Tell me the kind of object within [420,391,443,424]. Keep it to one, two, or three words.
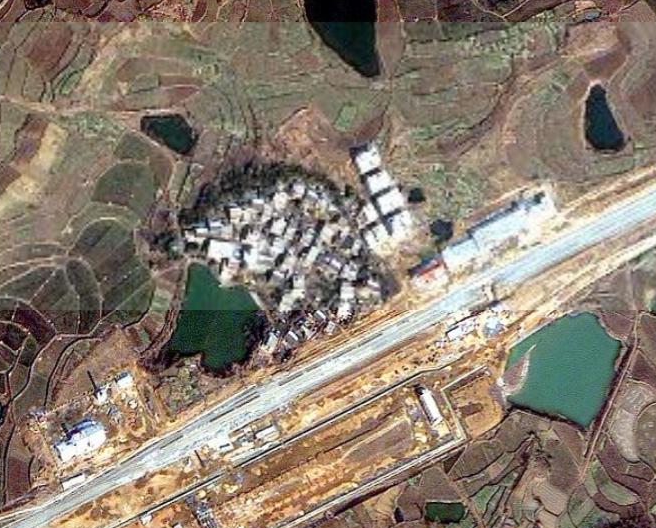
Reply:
building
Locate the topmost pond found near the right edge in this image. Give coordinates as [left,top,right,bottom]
[586,84,624,150]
